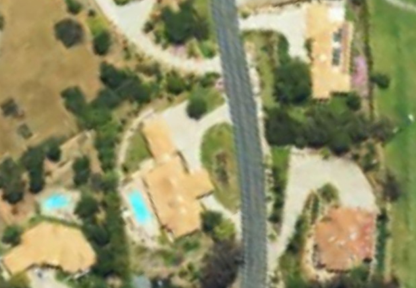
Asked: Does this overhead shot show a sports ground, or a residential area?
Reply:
residential area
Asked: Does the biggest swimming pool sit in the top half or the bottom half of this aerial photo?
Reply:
bottom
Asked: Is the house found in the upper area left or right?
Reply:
right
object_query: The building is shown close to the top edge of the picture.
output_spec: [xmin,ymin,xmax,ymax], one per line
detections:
[305,3,352,99]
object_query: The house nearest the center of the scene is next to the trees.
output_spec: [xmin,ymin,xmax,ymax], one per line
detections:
[141,115,213,241]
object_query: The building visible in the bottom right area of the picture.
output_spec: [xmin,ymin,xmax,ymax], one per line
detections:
[315,207,375,271]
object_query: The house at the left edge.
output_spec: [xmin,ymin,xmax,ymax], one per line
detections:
[2,219,94,275]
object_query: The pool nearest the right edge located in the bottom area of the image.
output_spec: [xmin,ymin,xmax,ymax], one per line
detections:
[128,189,150,225]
